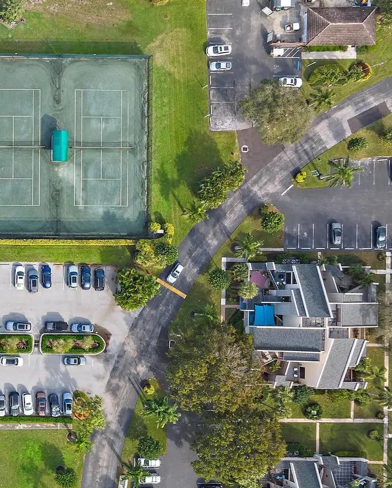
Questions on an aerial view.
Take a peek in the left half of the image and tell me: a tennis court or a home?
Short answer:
tennis court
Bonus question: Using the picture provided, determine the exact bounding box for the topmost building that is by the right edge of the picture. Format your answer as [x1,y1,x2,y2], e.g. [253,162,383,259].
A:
[305,3,385,46]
